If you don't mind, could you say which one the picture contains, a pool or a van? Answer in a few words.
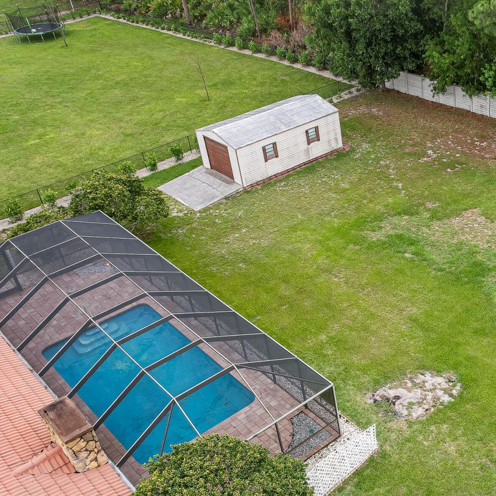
pool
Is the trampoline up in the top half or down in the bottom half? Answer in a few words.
top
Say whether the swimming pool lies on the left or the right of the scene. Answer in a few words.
left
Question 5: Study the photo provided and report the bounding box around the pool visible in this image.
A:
[44,308,254,465]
